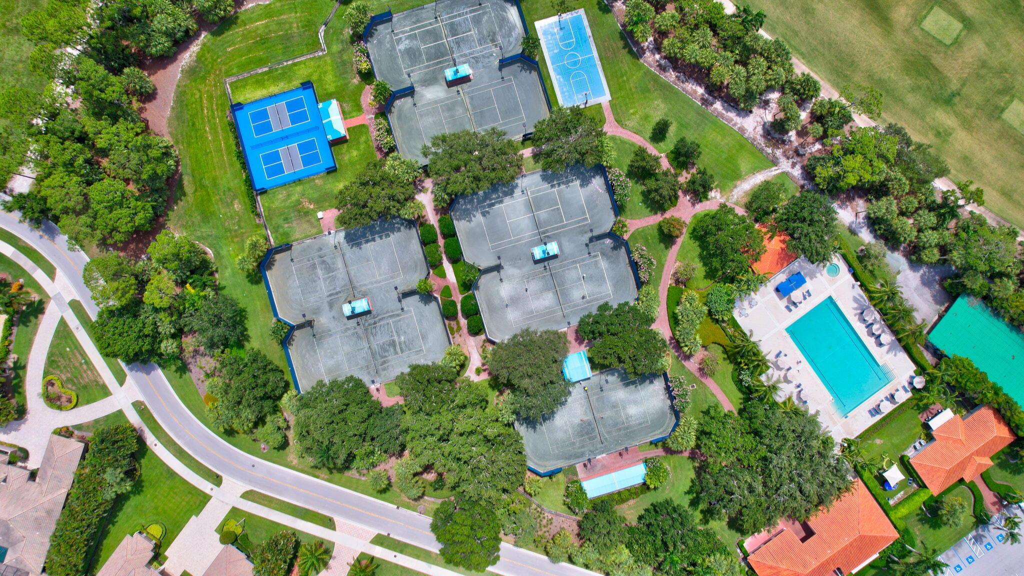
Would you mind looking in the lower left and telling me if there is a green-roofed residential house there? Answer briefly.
No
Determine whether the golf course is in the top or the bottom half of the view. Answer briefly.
top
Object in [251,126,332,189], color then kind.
blue sports court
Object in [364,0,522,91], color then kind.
gray tennis court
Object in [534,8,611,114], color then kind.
blue basketball court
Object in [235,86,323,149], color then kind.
blue sports court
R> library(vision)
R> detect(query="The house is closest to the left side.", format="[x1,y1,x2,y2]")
[0,434,85,576]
